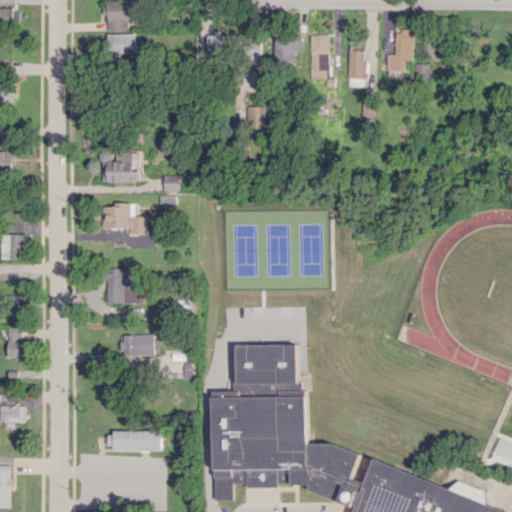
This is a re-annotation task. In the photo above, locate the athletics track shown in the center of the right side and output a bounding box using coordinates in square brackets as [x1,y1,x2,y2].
[398,209,512,385]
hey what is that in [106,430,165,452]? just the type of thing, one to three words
house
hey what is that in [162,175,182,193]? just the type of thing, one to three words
building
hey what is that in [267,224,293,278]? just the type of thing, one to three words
tennis court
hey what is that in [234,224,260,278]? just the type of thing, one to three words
tennis court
